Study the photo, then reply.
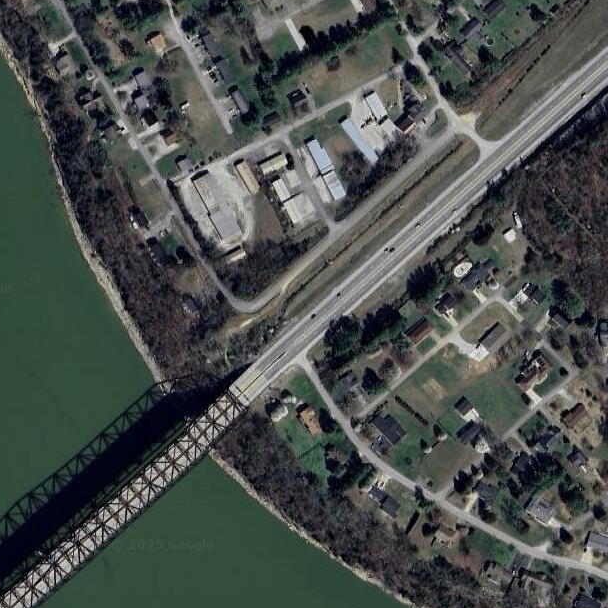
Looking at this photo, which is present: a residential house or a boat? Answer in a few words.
residential house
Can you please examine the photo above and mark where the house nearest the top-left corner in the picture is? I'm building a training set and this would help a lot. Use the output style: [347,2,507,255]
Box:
[51,54,74,76]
